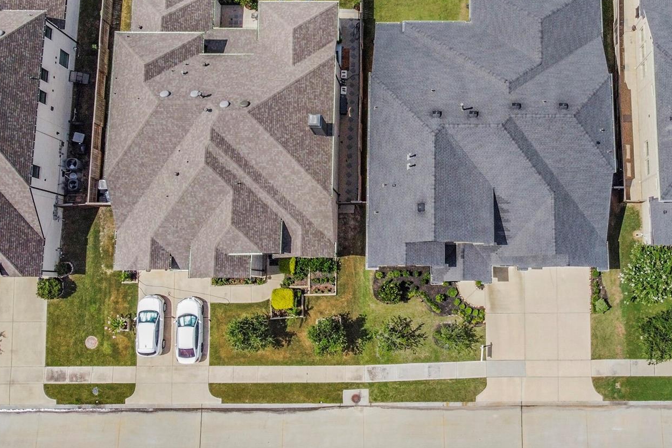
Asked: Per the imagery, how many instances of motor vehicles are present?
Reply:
2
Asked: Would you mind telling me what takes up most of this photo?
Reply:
buildings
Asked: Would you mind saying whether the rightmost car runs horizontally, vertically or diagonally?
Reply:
vertically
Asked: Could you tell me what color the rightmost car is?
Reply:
white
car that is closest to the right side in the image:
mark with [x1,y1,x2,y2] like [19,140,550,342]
[172,297,205,365]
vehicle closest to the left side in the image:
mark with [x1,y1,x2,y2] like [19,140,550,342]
[135,295,168,358]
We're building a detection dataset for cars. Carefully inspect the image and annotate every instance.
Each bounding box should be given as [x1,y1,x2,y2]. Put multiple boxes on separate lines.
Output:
[172,297,205,365]
[135,295,168,358]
